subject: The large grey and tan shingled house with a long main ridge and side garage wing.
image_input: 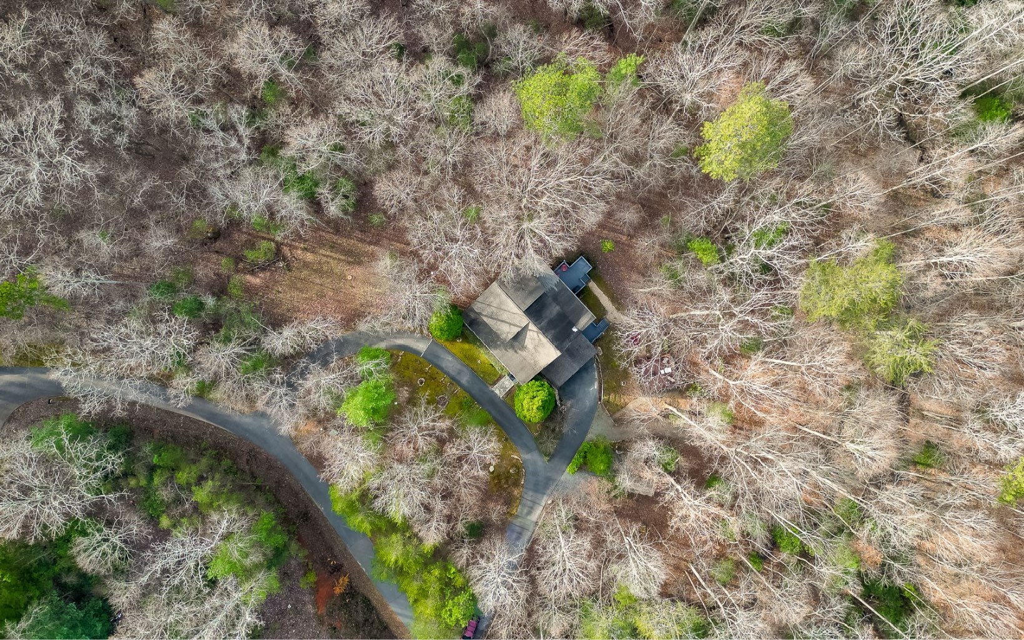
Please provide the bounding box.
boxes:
[463,248,599,389]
